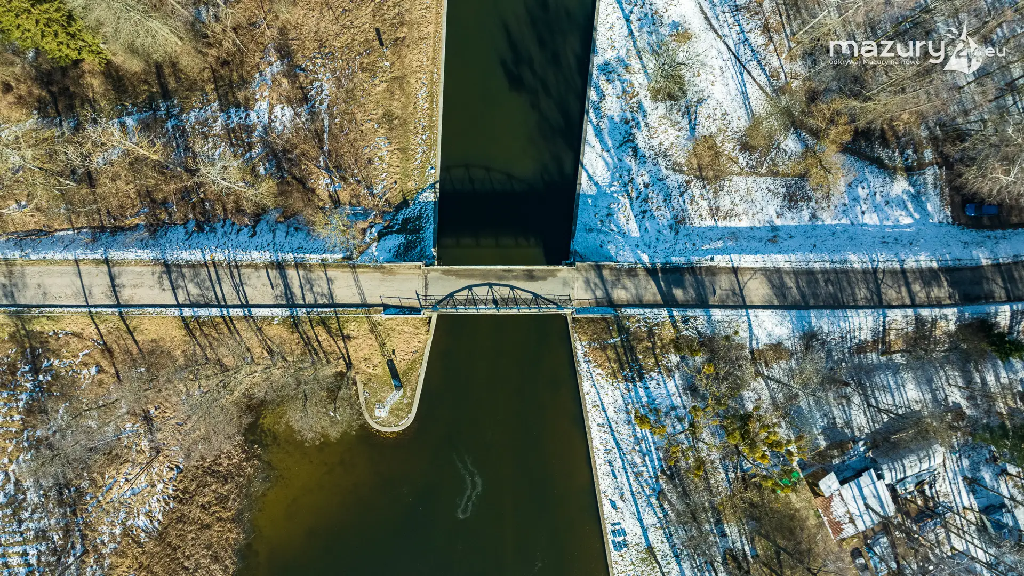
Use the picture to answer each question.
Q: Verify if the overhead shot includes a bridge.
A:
Yes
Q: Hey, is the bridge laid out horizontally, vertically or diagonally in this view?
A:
horizontally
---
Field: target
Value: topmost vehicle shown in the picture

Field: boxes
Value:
[968,201,1002,217]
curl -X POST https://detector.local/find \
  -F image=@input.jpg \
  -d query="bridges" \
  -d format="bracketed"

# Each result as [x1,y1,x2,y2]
[381,260,615,315]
